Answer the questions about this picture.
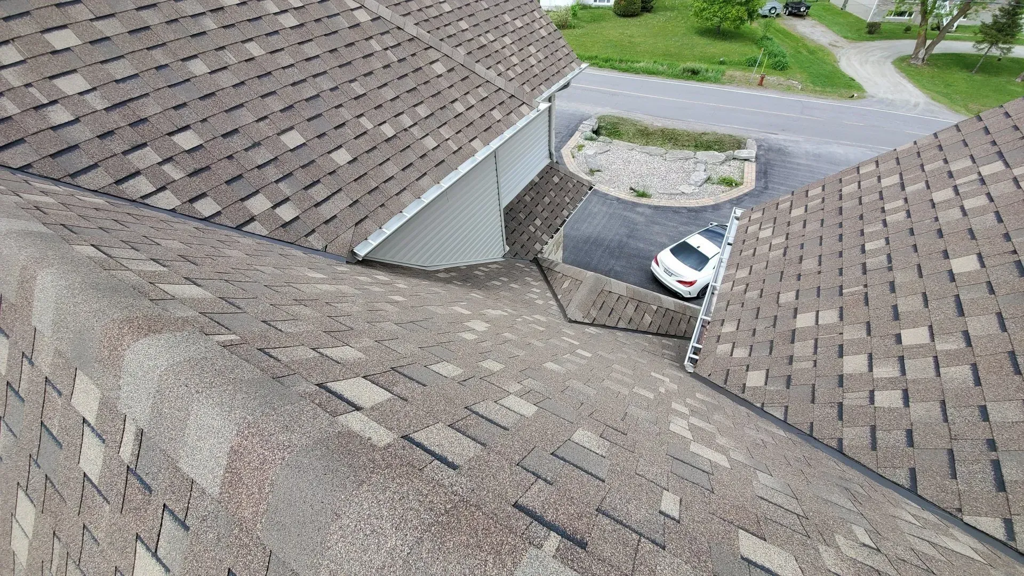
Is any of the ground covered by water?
No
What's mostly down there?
buildings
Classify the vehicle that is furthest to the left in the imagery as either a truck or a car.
car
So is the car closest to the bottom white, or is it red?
white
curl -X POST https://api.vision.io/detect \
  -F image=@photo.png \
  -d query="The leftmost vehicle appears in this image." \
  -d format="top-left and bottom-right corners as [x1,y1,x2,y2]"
[653,220,730,295]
